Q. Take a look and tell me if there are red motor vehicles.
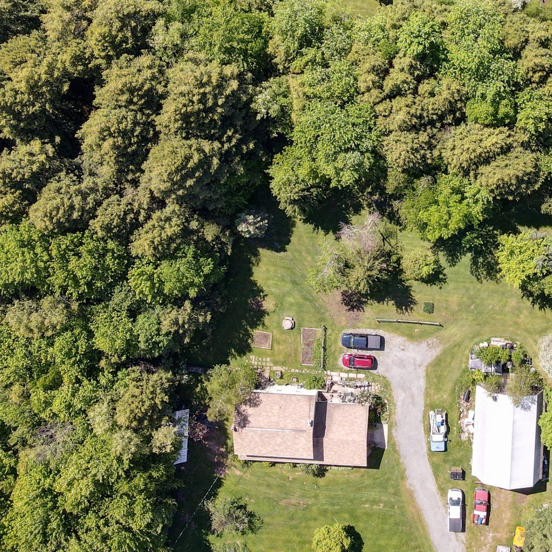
Yes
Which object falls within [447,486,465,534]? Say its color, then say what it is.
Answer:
white vehicle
